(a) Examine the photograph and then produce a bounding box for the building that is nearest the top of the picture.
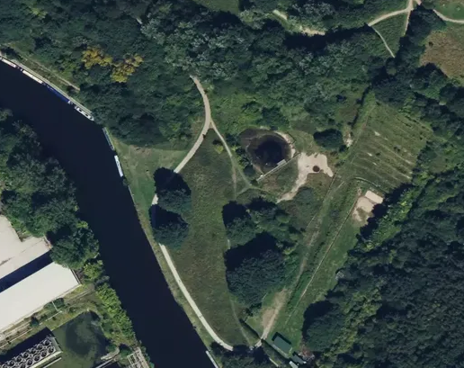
[0,265,81,331]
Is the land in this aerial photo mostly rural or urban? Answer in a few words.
rural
